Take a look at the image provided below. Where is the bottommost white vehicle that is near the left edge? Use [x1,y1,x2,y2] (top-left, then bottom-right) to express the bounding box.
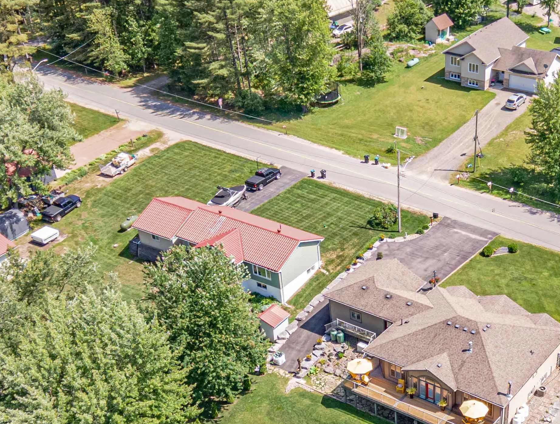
[24,223,66,246]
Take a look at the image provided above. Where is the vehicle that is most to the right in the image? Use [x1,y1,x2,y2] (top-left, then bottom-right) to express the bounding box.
[505,91,529,109]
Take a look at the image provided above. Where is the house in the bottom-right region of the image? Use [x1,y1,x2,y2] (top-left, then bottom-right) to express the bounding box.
[320,263,560,424]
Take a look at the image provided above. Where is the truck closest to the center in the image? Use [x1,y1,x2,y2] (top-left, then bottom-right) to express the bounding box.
[244,166,284,193]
